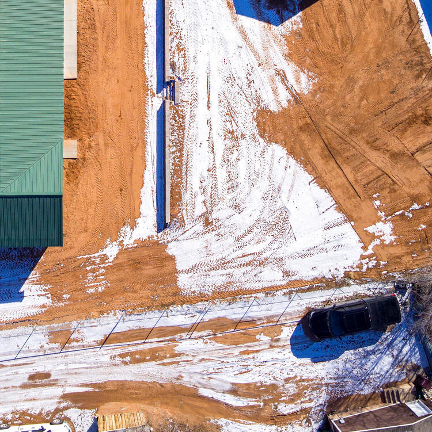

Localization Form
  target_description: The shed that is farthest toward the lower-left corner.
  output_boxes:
[99,411,149,432]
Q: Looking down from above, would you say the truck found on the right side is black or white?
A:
black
